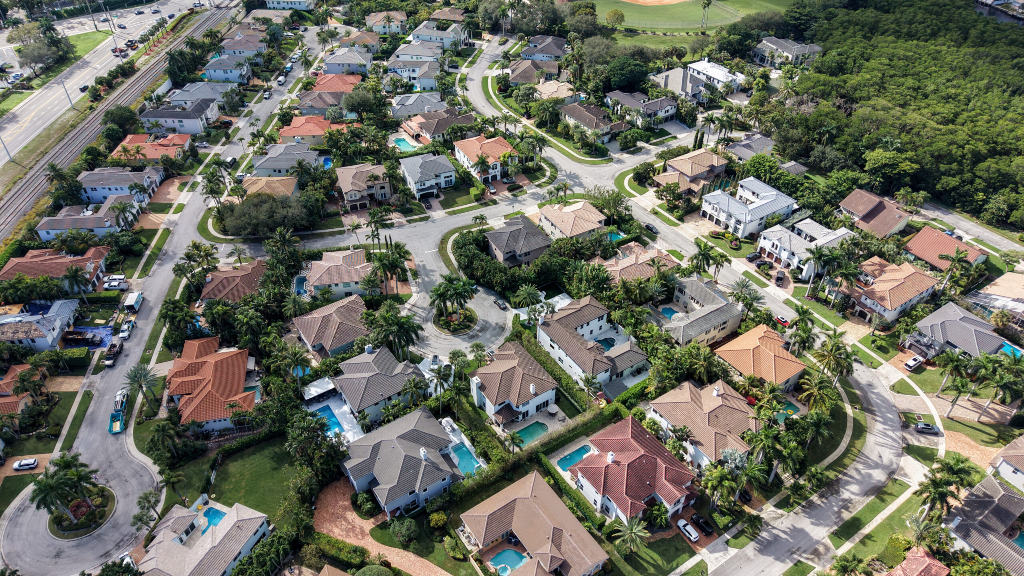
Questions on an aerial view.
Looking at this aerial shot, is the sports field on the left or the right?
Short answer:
right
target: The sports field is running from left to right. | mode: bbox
[565,0,784,67]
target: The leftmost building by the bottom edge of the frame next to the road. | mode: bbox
[136,501,268,576]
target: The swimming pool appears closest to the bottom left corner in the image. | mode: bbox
[199,504,227,536]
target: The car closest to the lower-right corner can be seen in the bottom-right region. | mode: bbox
[914,421,940,435]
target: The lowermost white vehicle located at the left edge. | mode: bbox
[12,456,39,471]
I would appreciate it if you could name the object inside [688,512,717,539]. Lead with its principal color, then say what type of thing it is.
black truck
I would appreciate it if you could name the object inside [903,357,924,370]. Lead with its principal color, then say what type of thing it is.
white vehicle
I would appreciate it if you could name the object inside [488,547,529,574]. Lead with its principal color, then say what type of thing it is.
blue swimming pool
